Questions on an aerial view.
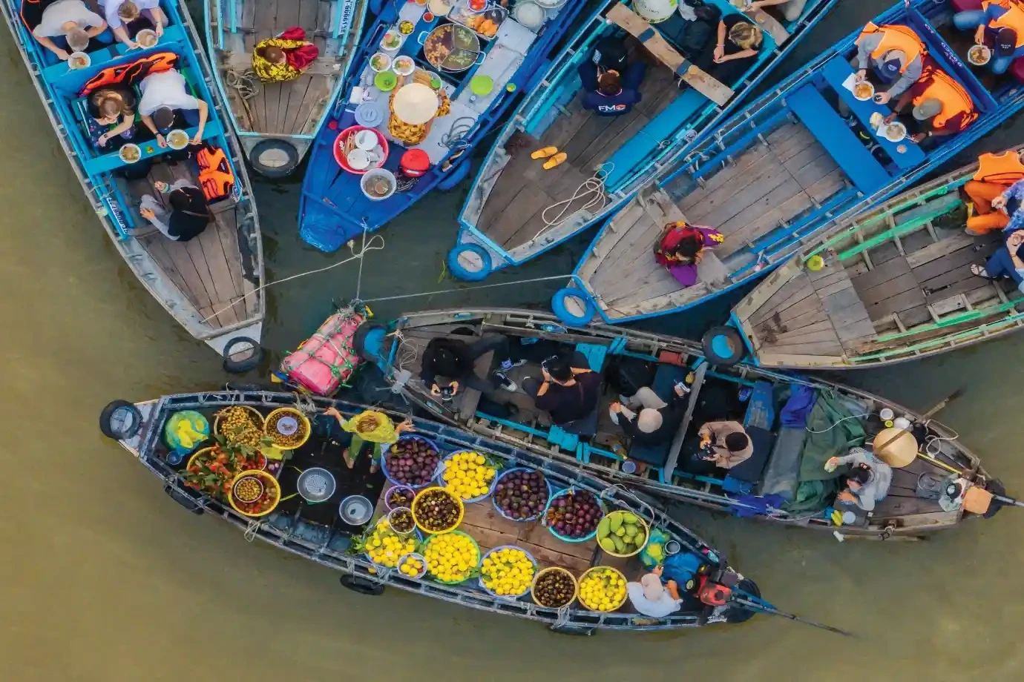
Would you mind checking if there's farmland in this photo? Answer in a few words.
No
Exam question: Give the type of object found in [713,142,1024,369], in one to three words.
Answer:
boat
